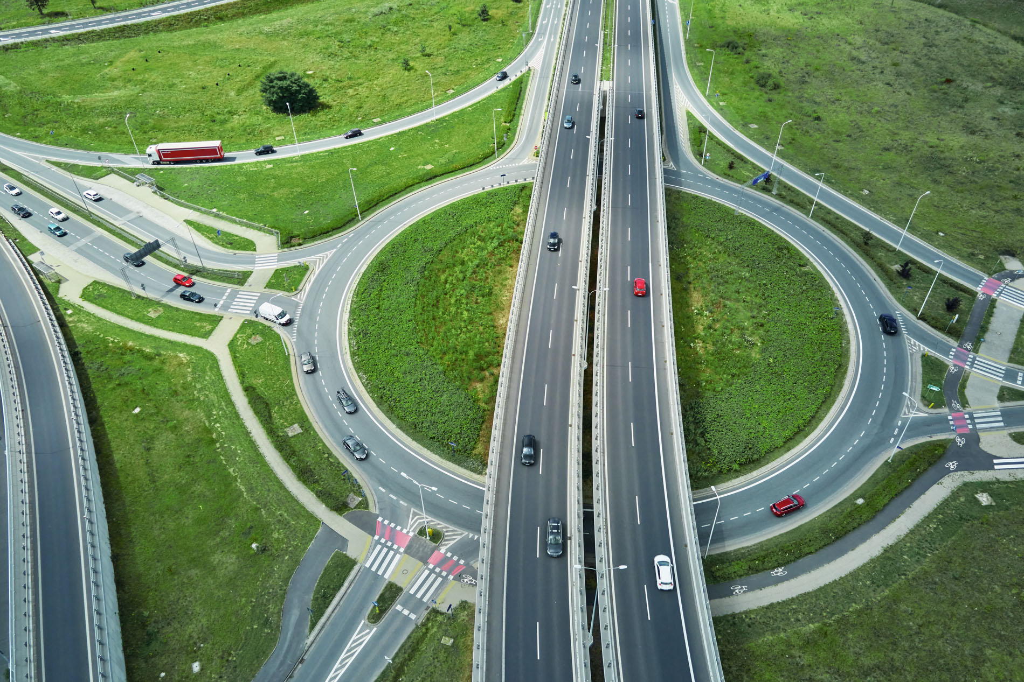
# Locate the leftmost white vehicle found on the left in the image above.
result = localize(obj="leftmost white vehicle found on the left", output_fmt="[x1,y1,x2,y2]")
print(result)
[2,182,19,194]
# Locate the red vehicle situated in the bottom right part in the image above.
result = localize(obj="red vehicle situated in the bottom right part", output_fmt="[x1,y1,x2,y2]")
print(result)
[770,495,807,516]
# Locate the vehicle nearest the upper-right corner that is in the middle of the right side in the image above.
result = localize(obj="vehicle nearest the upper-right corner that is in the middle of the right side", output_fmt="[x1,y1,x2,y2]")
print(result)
[879,313,900,333]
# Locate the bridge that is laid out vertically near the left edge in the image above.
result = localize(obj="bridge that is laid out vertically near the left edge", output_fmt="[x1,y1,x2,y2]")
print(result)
[0,225,125,682]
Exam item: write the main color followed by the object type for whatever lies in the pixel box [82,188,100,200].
white vehicle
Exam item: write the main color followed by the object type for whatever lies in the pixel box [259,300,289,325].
white vehicle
